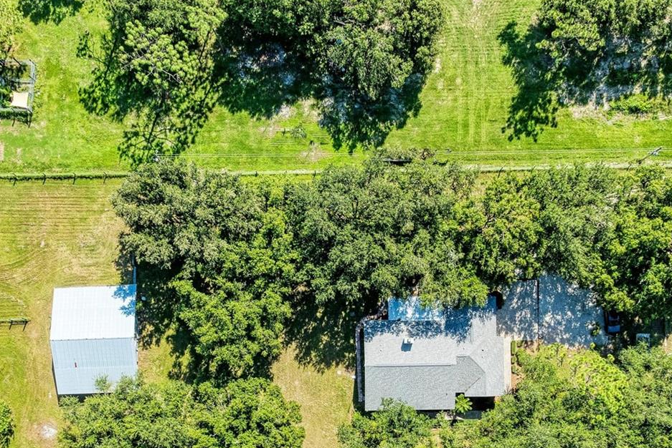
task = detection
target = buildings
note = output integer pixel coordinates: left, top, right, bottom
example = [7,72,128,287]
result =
[50,284,139,396]
[364,296,505,412]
